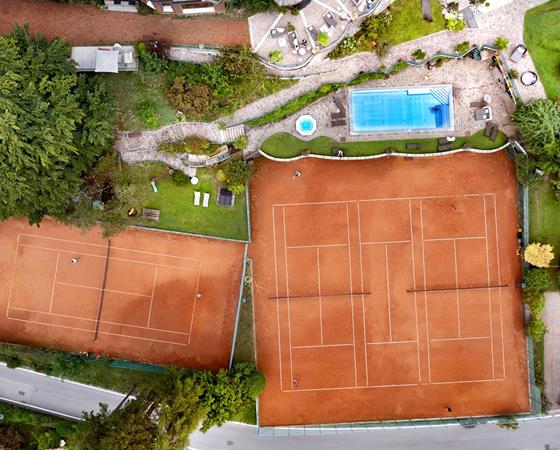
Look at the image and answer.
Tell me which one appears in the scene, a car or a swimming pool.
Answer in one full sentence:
The one in the frame is a swimming pool.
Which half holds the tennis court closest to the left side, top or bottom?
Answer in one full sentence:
You can find the tennis court closest to the left side in the bottom half.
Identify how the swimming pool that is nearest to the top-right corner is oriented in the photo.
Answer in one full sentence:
In this picture, the swimming pool that is nearest to the top-right corner is oriented horizontally.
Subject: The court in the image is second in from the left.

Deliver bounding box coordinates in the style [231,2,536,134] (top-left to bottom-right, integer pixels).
[250,154,370,427]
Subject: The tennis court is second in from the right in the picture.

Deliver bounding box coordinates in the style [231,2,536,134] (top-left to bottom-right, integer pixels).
[355,156,422,421]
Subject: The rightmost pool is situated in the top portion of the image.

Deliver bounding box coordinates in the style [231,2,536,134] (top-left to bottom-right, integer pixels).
[349,85,454,136]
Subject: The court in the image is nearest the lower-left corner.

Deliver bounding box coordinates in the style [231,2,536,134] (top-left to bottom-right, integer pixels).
[0,218,248,369]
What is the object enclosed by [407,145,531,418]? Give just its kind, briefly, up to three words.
tennis court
